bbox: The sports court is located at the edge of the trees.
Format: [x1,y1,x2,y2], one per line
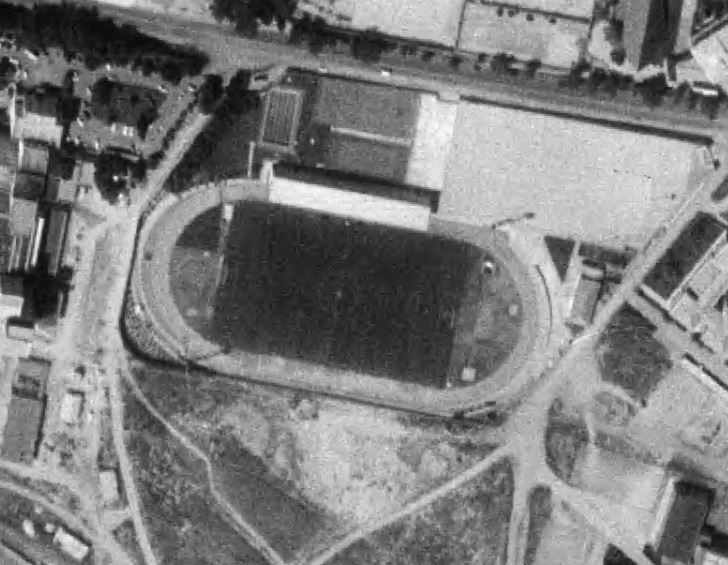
[261,88,303,150]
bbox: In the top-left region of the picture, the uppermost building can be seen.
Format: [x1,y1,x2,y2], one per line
[14,91,68,148]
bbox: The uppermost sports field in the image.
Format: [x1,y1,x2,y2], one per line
[438,103,706,249]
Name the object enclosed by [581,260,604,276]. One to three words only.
house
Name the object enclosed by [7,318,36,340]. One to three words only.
house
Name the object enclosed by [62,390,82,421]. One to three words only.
shed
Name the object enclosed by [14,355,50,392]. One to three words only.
building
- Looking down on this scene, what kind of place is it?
sports ground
